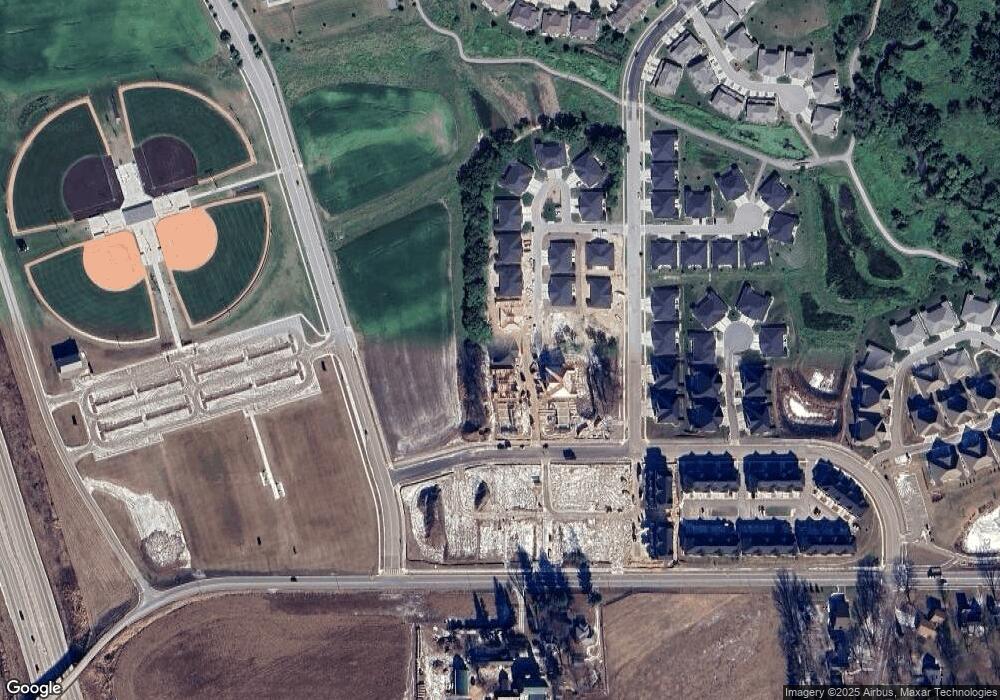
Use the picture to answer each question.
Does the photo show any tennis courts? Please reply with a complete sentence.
No, no tennis court is visible in the view.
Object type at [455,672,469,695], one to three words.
shed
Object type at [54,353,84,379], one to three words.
barn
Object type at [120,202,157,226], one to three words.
building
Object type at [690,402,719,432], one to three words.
house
